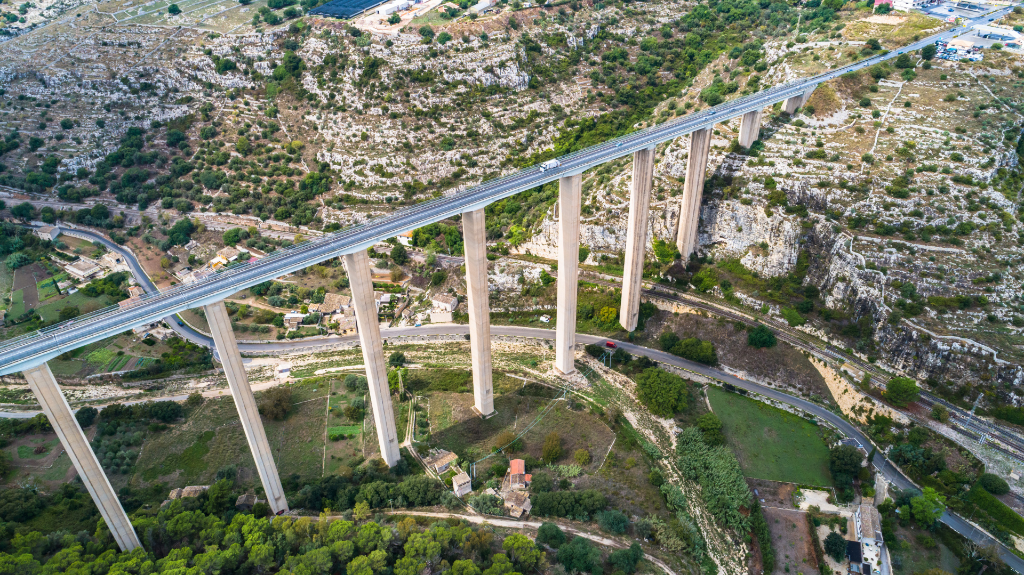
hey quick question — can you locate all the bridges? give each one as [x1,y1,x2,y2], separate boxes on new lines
[0,70,828,564]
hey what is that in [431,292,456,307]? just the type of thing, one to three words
house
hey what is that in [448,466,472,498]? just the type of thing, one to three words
house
